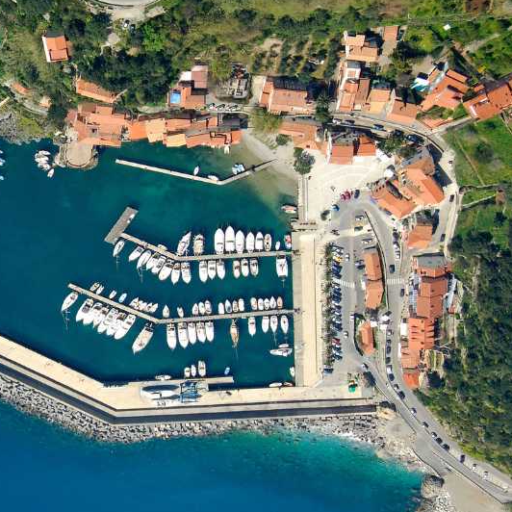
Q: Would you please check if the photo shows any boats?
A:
Yes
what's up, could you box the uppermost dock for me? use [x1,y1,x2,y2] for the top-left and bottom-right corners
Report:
[115,159,264,184]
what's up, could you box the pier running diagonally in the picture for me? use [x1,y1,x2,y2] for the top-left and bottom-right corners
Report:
[106,209,135,246]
